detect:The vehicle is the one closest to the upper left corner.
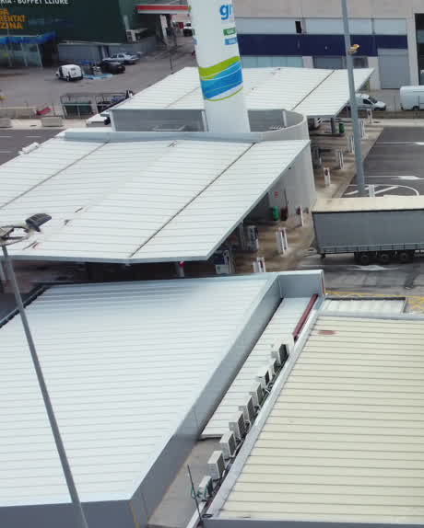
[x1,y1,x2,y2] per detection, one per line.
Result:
[52,62,90,79]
